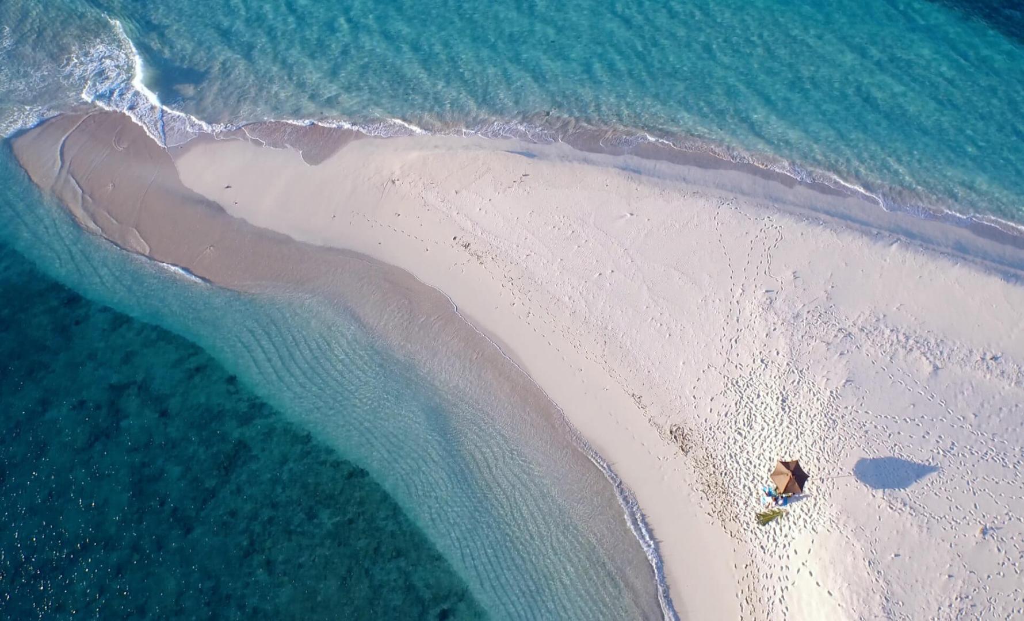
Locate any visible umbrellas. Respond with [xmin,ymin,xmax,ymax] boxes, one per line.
[771,460,810,495]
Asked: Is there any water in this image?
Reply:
Yes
